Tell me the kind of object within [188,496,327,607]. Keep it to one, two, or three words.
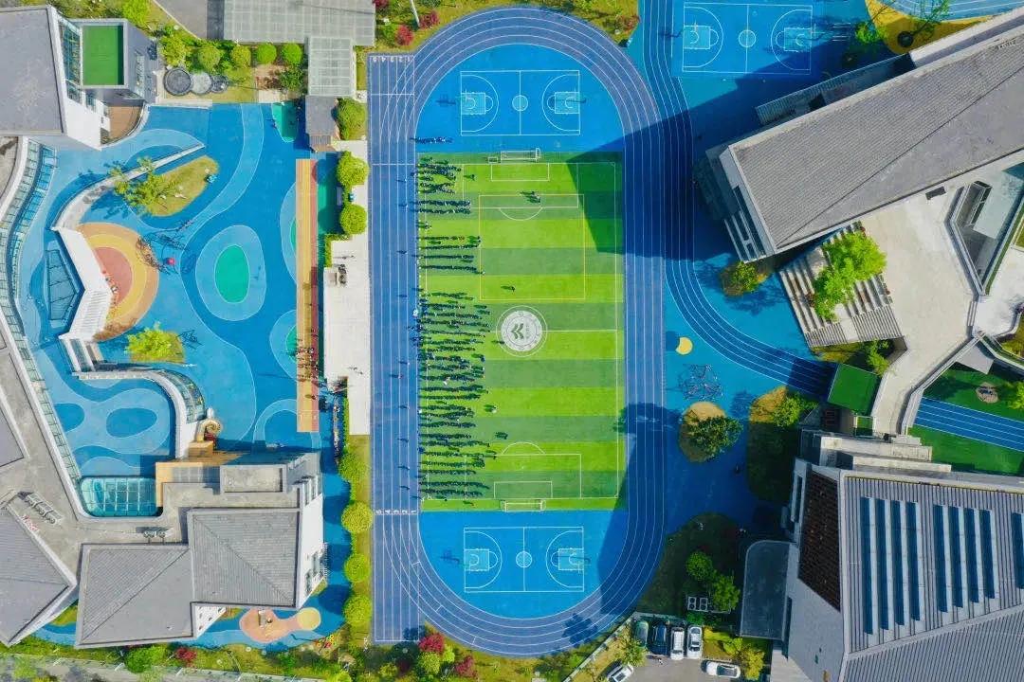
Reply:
building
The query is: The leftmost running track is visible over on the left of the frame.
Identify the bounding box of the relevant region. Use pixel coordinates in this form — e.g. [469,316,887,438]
[296,159,318,432]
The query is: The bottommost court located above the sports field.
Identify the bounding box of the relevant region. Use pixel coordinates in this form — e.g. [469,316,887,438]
[461,70,580,135]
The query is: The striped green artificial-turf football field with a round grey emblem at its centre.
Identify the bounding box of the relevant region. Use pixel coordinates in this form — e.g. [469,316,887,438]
[418,151,627,512]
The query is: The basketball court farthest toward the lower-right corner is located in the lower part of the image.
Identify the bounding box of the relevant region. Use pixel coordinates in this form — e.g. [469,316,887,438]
[464,527,584,593]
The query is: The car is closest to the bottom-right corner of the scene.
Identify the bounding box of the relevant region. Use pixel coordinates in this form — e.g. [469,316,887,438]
[705,660,740,678]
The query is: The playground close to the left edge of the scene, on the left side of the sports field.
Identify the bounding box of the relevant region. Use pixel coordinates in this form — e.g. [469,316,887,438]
[15,97,352,650]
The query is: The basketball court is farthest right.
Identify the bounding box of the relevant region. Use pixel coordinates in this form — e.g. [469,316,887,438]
[672,0,821,79]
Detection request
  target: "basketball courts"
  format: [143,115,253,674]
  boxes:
[464,527,584,593]
[461,70,580,135]
[672,0,821,79]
